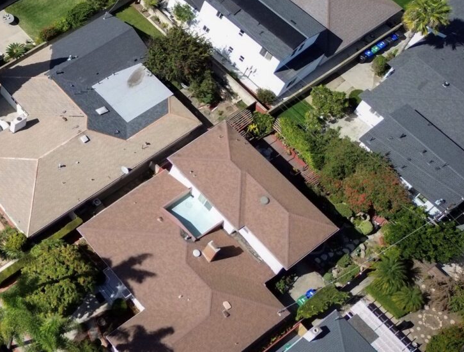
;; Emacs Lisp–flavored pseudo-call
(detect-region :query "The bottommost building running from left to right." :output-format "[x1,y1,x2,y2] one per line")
[276,309,378,352]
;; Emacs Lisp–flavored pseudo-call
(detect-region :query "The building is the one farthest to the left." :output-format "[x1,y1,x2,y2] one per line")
[0,12,201,241]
